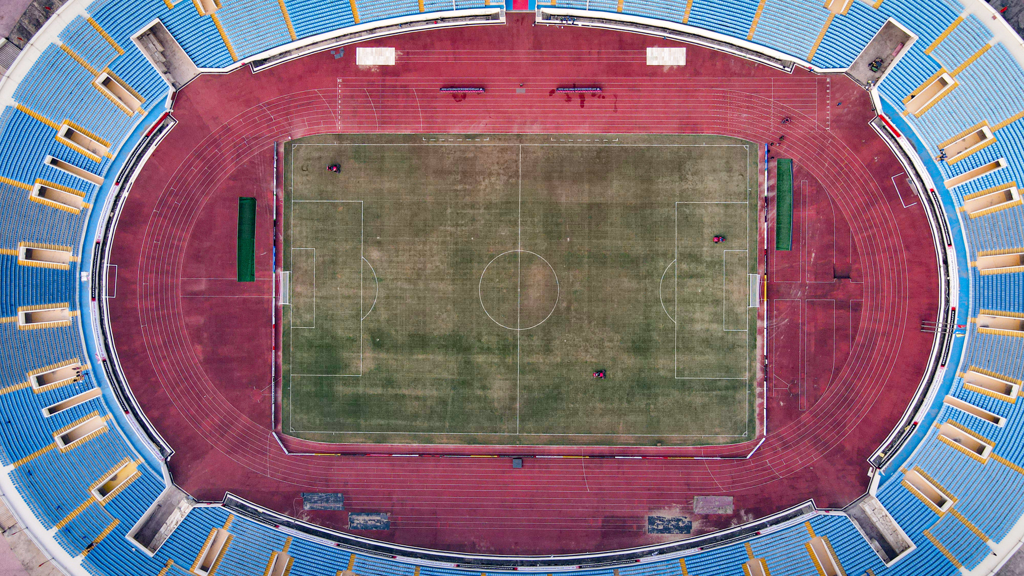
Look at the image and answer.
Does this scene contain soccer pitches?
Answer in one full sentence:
Yes, a soccer pitch is visible in the scene.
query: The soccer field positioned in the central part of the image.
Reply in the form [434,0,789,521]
[281,132,759,447]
